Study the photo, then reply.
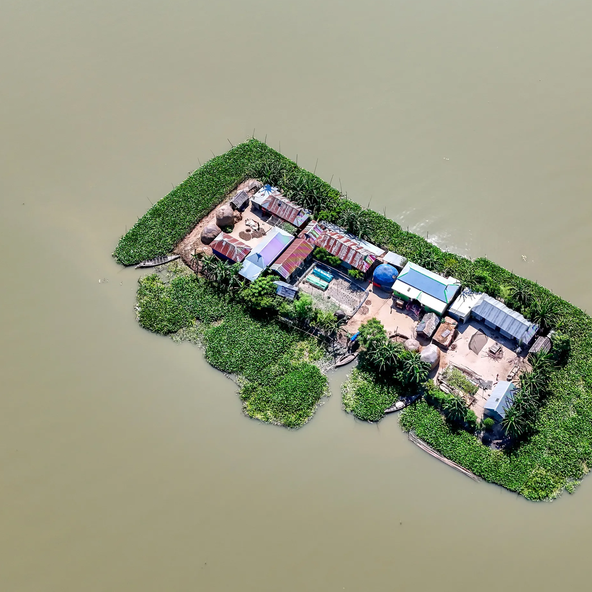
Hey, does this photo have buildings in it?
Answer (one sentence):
Yes, a building is visible in the scene.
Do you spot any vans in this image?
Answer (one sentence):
No, no van is visible in the view.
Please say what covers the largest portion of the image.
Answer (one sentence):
The scene is dominated by water.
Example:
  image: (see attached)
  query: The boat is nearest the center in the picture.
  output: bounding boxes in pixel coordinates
[335,351,359,366]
